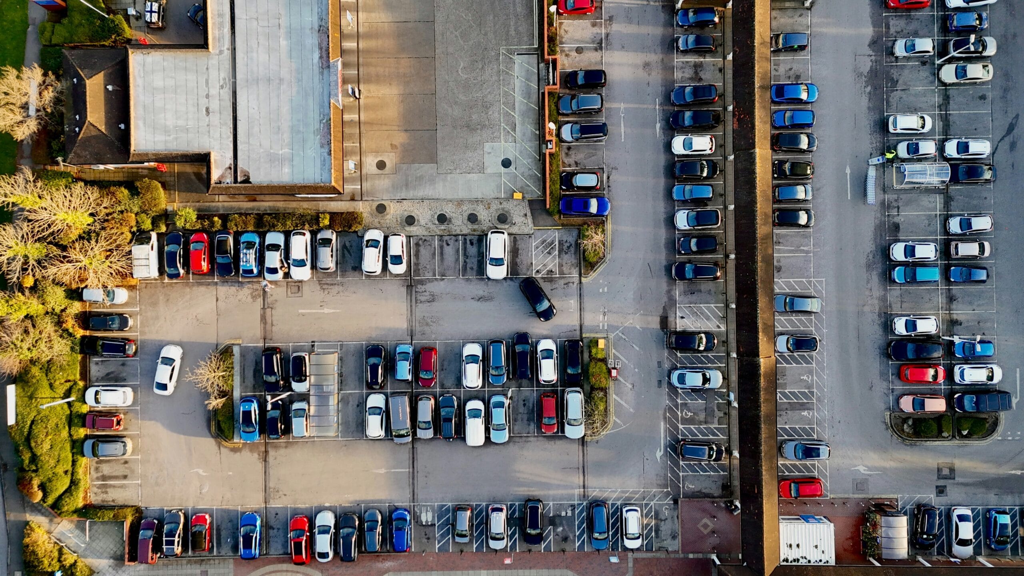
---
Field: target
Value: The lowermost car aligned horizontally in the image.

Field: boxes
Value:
[778,477,823,499]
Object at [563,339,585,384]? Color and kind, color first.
black car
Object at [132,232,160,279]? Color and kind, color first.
white van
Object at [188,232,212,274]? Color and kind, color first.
red car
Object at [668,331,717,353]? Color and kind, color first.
black car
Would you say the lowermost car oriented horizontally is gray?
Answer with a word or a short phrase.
No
